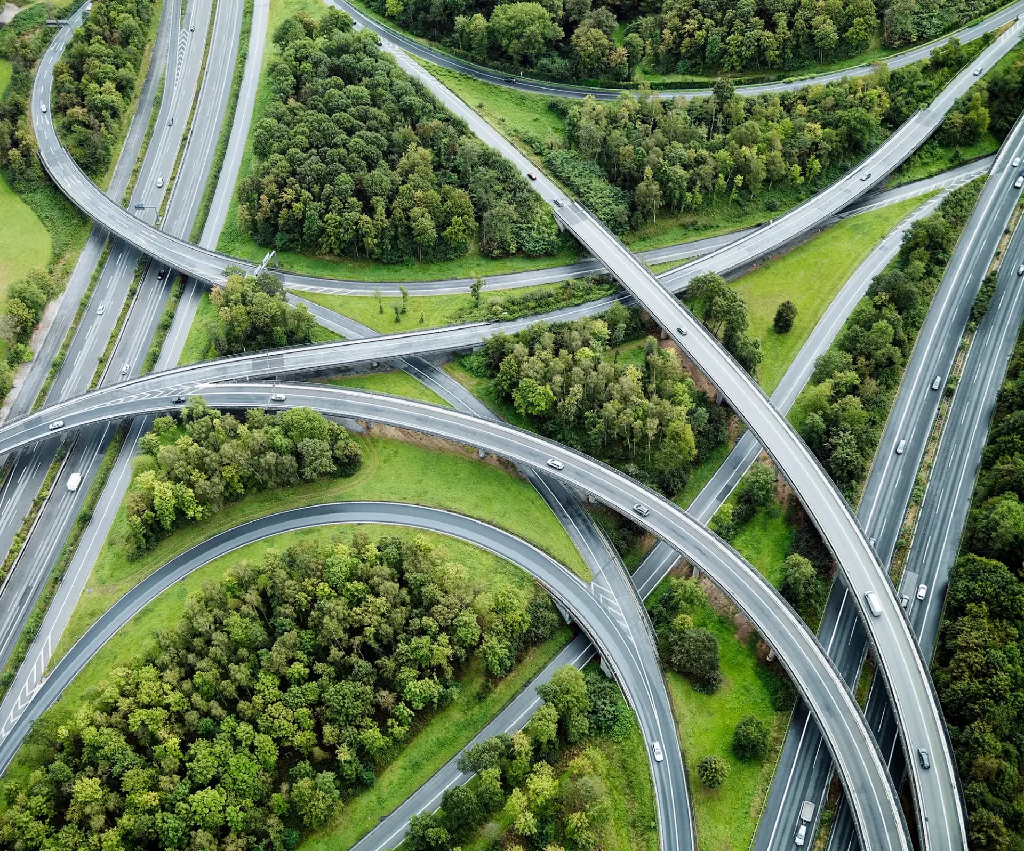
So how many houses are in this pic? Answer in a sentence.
No houses are visible.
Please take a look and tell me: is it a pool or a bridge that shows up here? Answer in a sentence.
The image shows a bridge.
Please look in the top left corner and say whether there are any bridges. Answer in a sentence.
Yes, in the top left corner there is a bridge.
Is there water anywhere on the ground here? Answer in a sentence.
No, water can't be seen anywhere here.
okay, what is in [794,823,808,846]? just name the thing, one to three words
car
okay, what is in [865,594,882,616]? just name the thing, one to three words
vehicle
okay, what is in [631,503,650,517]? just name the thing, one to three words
car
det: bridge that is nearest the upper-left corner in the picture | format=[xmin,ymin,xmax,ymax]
[41,145,244,286]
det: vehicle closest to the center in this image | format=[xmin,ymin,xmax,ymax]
[546,458,565,470]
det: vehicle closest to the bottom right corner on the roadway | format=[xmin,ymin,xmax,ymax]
[918,748,931,770]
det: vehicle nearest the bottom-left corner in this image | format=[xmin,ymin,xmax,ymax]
[64,473,83,494]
